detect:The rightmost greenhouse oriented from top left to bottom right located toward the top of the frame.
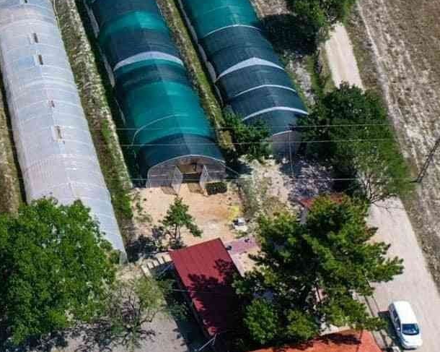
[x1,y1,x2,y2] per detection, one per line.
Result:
[181,0,325,156]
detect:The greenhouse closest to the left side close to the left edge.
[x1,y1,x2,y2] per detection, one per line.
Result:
[0,0,132,264]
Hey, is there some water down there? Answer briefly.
No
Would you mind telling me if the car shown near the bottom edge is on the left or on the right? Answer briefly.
right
